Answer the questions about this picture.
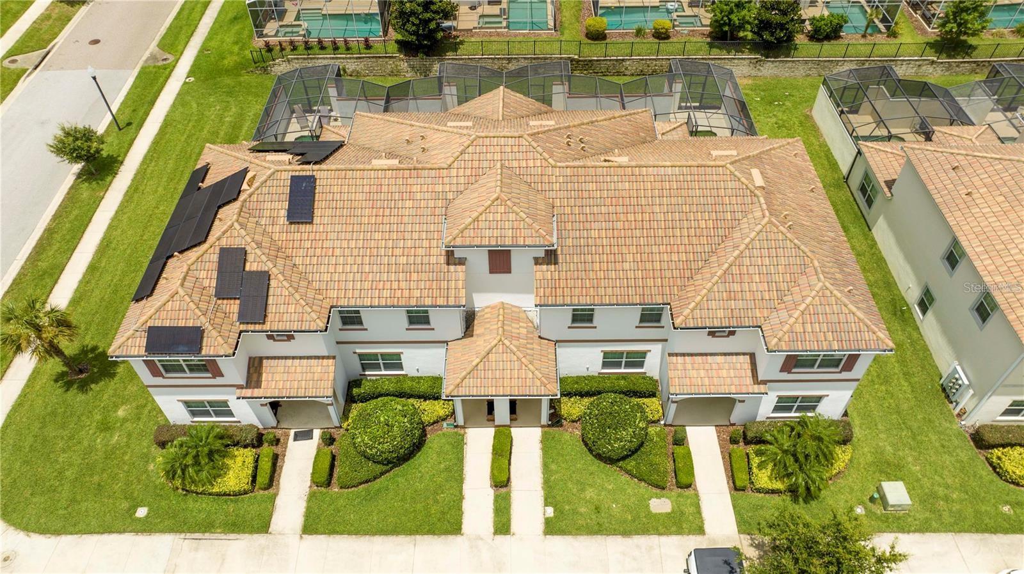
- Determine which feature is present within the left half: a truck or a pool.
pool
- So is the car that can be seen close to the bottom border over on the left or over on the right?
right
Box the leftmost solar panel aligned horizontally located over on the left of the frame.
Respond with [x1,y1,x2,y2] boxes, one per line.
[143,323,200,350]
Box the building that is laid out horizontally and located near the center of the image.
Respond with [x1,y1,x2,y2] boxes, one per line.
[106,84,896,430]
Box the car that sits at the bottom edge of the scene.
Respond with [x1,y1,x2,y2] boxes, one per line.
[685,548,746,574]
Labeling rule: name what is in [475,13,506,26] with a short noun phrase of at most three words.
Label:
swimming pool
